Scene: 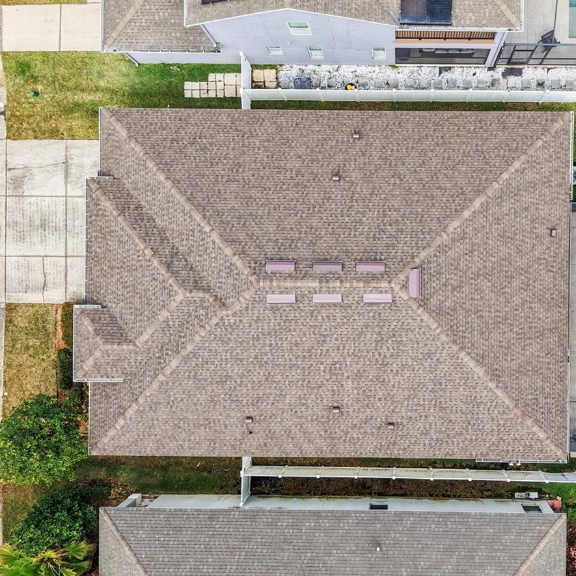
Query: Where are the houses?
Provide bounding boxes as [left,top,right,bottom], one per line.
[71,106,575,464]
[100,0,526,73]
[98,489,568,576]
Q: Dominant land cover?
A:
buildings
